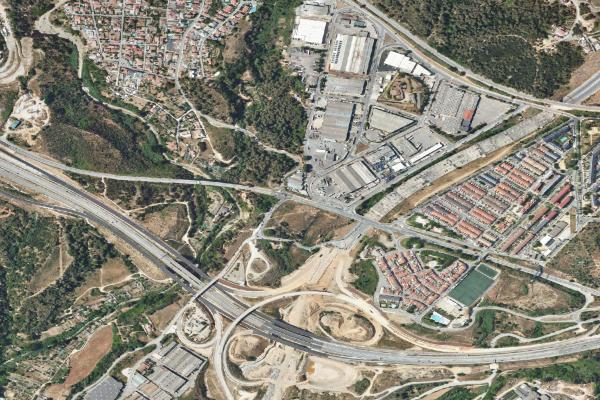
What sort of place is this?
residential area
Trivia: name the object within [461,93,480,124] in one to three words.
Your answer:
building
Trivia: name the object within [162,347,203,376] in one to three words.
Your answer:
building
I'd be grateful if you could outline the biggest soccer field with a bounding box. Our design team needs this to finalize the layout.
[449,268,493,309]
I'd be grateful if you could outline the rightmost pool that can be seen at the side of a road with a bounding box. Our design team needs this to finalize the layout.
[431,310,451,326]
